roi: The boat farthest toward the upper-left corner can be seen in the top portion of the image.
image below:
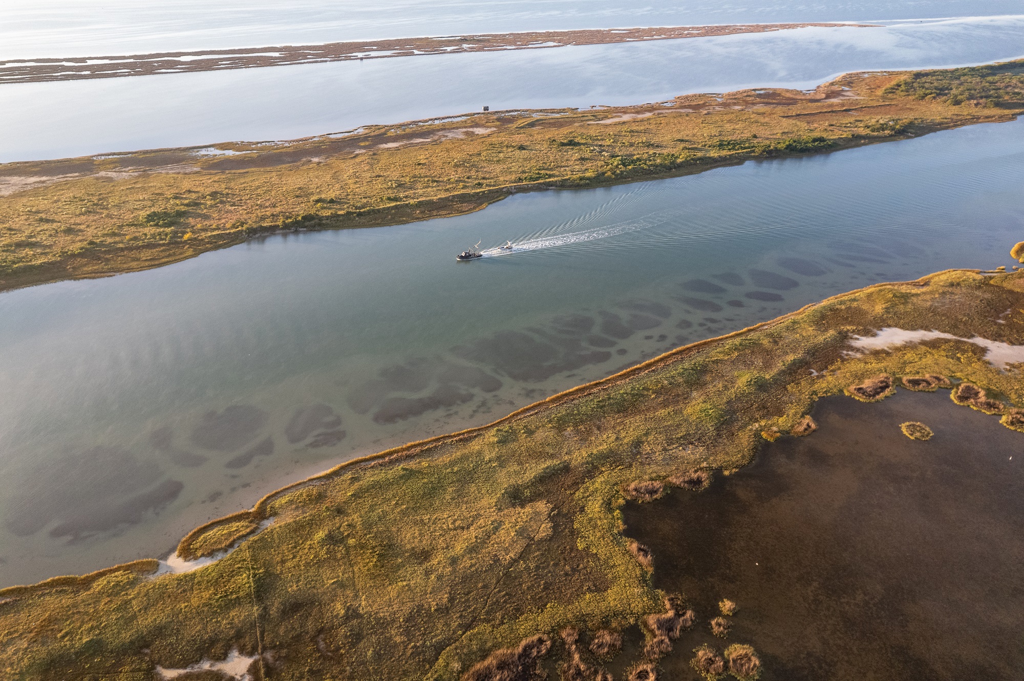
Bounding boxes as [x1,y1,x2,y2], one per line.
[456,236,483,258]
